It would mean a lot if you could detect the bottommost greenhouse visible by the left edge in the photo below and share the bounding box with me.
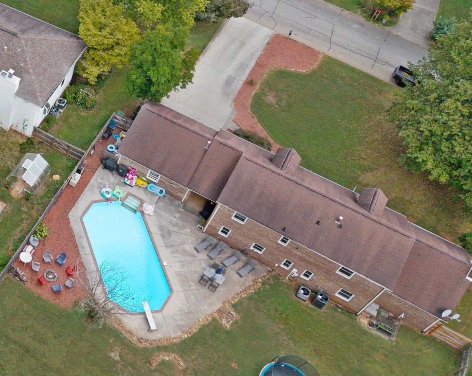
[8,151,44,196]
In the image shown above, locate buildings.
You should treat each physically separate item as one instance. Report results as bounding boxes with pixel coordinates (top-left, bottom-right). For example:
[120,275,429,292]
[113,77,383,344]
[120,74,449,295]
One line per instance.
[0,4,90,132]
[116,99,472,332]
[8,151,44,196]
